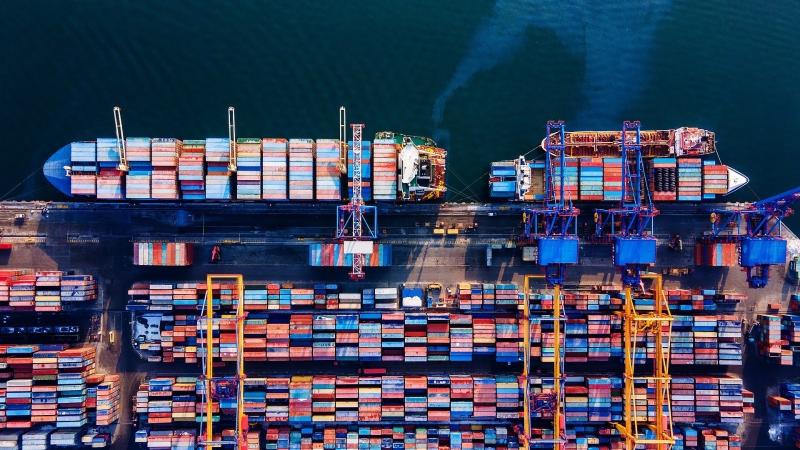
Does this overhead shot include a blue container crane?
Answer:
Yes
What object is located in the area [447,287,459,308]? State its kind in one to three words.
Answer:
vehicle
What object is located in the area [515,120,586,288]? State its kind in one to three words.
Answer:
container crane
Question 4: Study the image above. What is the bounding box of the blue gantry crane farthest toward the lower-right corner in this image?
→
[688,180,800,288]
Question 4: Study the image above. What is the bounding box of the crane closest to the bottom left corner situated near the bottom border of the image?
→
[196,277,253,450]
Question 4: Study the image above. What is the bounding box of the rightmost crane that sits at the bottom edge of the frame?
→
[610,277,674,450]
